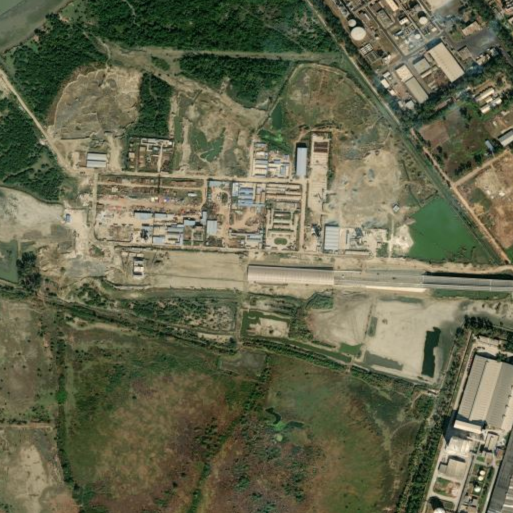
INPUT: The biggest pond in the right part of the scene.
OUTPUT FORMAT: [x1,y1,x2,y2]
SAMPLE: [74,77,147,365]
[409,194,479,261]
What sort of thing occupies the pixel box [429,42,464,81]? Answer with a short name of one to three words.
building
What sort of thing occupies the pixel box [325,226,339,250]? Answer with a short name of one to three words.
building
